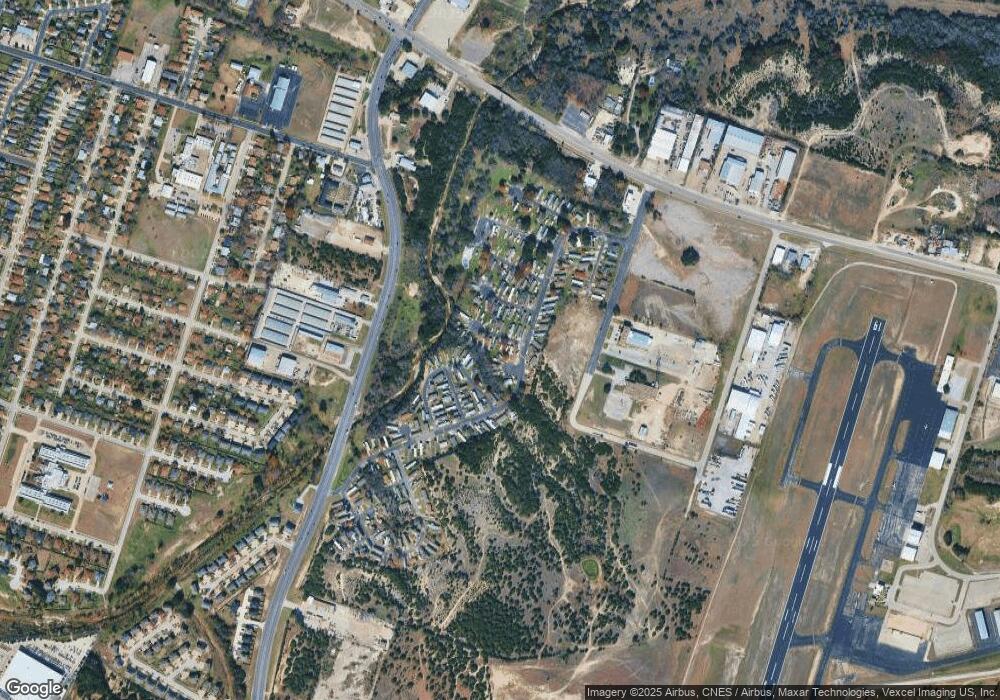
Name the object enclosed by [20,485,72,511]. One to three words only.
building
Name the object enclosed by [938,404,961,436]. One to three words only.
hangar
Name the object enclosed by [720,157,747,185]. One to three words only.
building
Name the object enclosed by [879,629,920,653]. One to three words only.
hangar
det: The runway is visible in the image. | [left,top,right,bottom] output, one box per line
[762,316,887,700]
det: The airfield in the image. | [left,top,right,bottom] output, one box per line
[761,315,987,700]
